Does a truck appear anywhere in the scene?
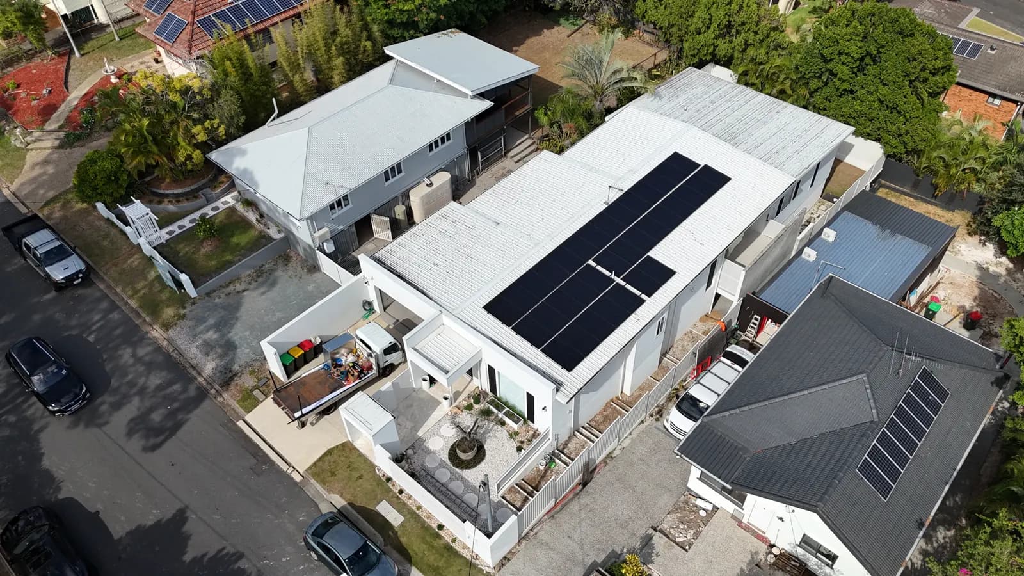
Yes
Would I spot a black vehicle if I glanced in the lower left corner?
Yes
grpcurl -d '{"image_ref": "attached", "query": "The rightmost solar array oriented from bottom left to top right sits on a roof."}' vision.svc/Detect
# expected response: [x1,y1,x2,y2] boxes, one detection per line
[862,357,959,492]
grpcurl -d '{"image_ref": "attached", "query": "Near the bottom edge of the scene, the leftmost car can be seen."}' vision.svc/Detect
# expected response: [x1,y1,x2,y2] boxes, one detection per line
[1,507,90,576]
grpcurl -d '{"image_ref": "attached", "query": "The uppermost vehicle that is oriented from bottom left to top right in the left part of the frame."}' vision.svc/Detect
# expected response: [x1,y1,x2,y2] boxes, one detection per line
[265,315,403,425]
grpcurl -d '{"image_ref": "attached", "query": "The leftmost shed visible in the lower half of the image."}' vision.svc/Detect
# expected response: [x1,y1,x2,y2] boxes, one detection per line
[337,390,402,457]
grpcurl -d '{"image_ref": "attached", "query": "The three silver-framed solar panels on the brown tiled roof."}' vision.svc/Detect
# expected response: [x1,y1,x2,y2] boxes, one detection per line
[920,27,984,59]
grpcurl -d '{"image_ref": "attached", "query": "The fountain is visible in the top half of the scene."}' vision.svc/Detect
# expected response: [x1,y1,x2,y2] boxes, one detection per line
[97,54,120,83]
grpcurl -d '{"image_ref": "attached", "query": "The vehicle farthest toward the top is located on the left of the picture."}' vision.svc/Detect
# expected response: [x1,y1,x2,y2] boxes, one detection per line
[4,217,88,290]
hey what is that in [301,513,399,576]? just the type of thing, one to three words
car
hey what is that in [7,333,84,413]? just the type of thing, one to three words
car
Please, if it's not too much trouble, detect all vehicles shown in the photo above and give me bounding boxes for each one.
[665,346,751,440]
[4,217,88,290]
[301,513,399,576]
[265,315,403,425]
[1,507,90,576]
[7,333,84,413]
